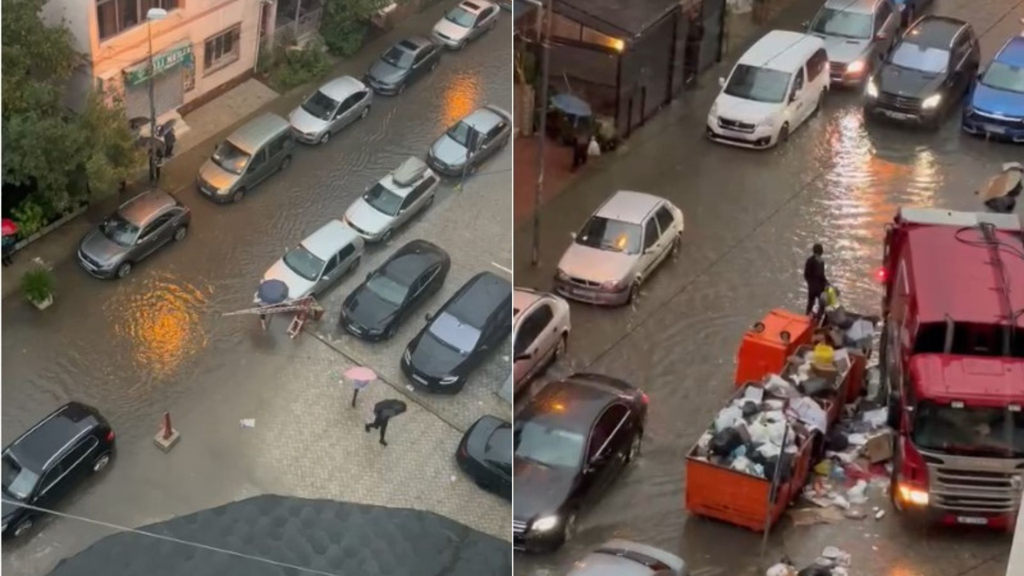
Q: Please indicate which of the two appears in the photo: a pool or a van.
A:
van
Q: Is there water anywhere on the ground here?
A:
Yes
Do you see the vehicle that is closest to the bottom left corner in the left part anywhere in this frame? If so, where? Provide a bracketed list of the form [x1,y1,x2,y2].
[0,408,118,537]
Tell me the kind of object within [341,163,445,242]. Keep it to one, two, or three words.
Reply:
car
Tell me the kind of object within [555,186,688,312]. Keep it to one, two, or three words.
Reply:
car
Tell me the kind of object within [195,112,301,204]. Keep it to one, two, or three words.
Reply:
van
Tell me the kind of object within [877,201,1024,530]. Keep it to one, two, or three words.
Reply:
truck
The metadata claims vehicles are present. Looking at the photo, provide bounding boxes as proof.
[965,38,1024,152]
[340,246,455,340]
[289,74,376,148]
[865,10,992,132]
[514,363,660,559]
[260,222,367,308]
[877,201,1024,530]
[555,186,688,312]
[824,0,935,93]
[75,190,194,280]
[708,25,835,152]
[195,112,301,204]
[0,408,118,537]
[362,33,447,98]
[428,0,506,52]
[513,281,569,393]
[450,425,514,508]
[410,285,511,396]
[341,163,445,242]
[428,105,511,177]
